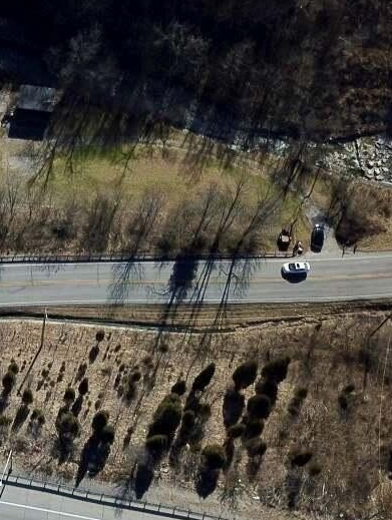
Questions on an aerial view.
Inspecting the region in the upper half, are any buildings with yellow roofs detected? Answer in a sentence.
No, in the upper half there is no building with a yellow roof.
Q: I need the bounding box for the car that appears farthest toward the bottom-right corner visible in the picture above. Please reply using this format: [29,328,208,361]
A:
[280,261,312,275]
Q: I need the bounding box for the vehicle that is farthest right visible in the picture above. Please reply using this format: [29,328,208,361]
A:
[311,225,326,249]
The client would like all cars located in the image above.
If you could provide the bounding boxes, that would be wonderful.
[280,261,312,275]
[311,225,326,249]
